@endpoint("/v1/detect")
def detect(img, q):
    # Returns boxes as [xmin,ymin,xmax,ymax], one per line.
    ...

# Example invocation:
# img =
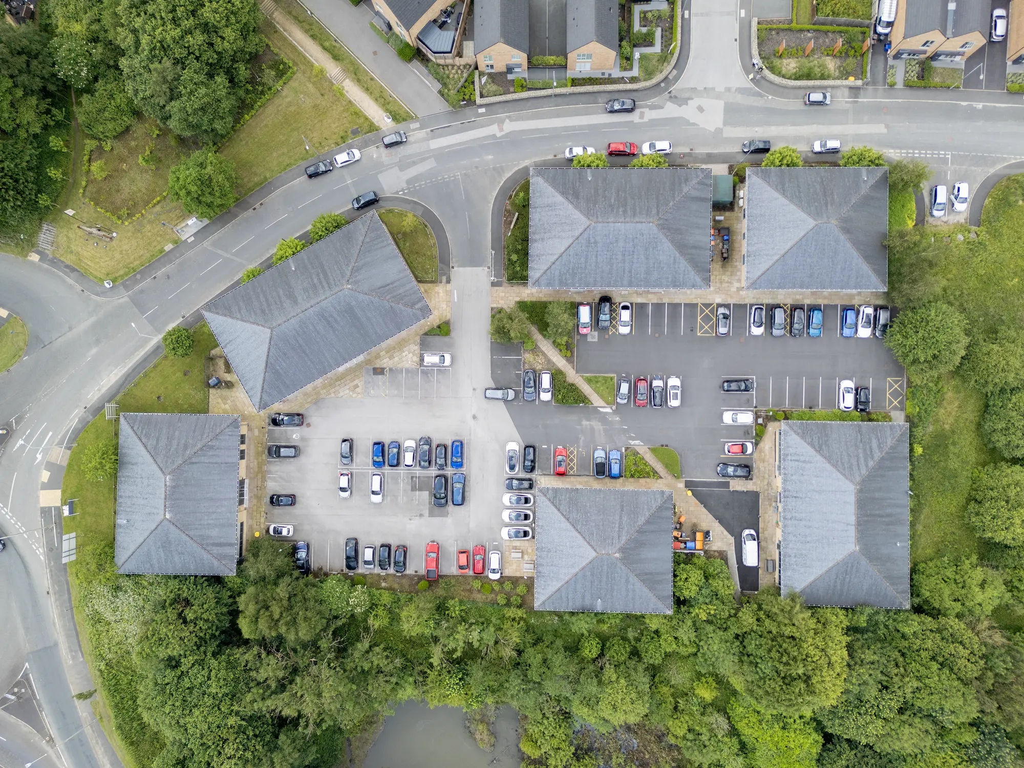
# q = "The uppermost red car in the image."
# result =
[607,140,638,156]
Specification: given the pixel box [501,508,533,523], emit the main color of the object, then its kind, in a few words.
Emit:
white car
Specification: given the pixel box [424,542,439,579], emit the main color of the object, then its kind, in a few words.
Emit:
red vehicle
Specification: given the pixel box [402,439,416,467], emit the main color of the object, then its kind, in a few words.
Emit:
white car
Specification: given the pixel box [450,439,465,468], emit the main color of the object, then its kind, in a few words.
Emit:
blue car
